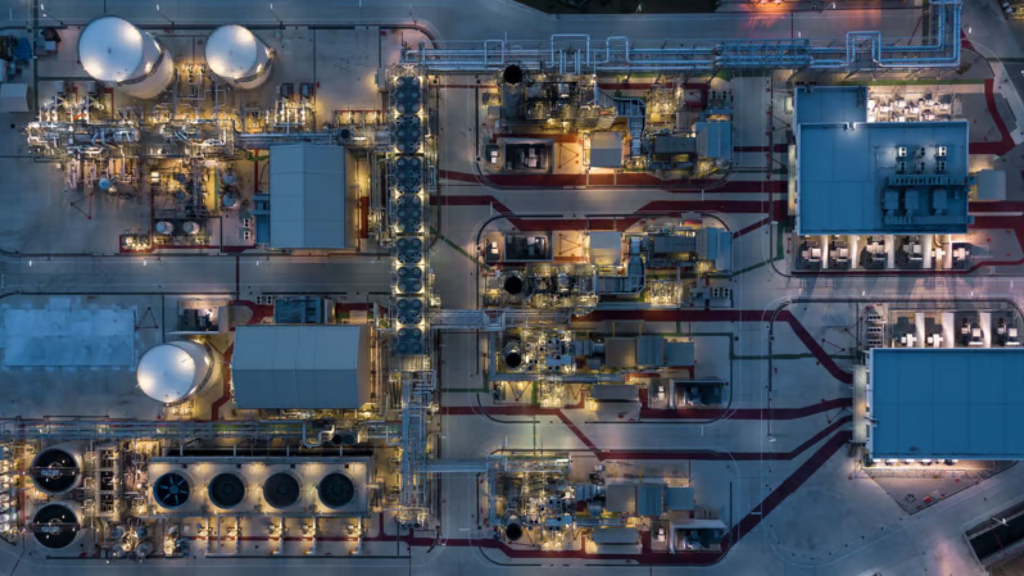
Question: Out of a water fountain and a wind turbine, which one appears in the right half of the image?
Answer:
wind turbine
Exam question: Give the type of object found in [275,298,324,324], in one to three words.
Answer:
house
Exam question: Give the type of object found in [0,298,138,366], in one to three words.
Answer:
shed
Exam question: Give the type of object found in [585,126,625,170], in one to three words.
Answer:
building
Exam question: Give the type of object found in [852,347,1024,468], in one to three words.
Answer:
building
